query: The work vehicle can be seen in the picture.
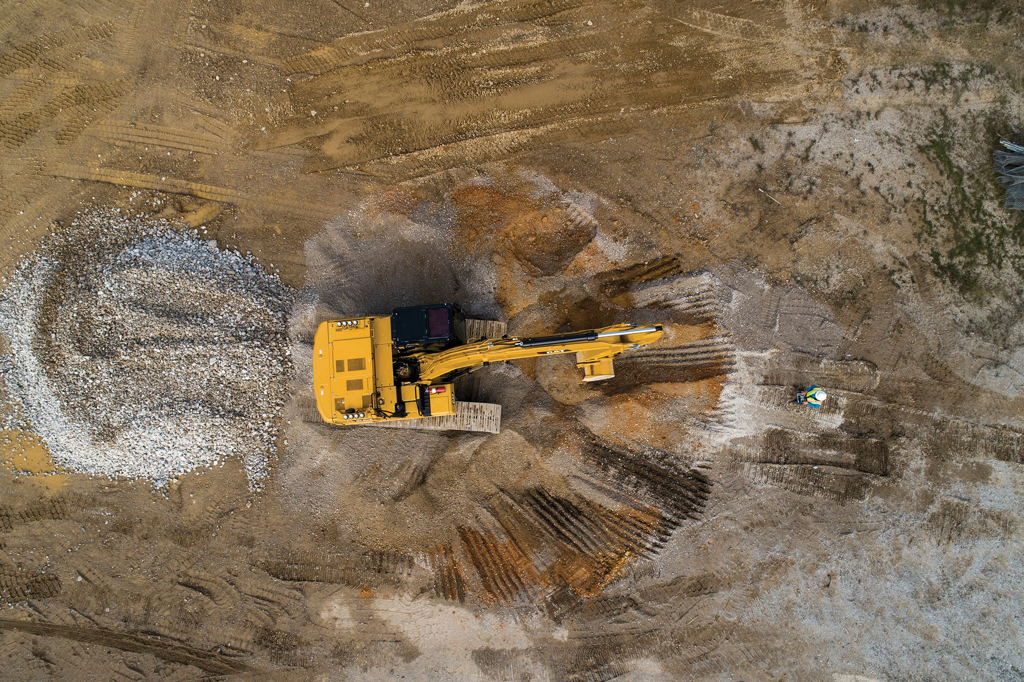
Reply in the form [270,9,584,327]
[313,299,665,435]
